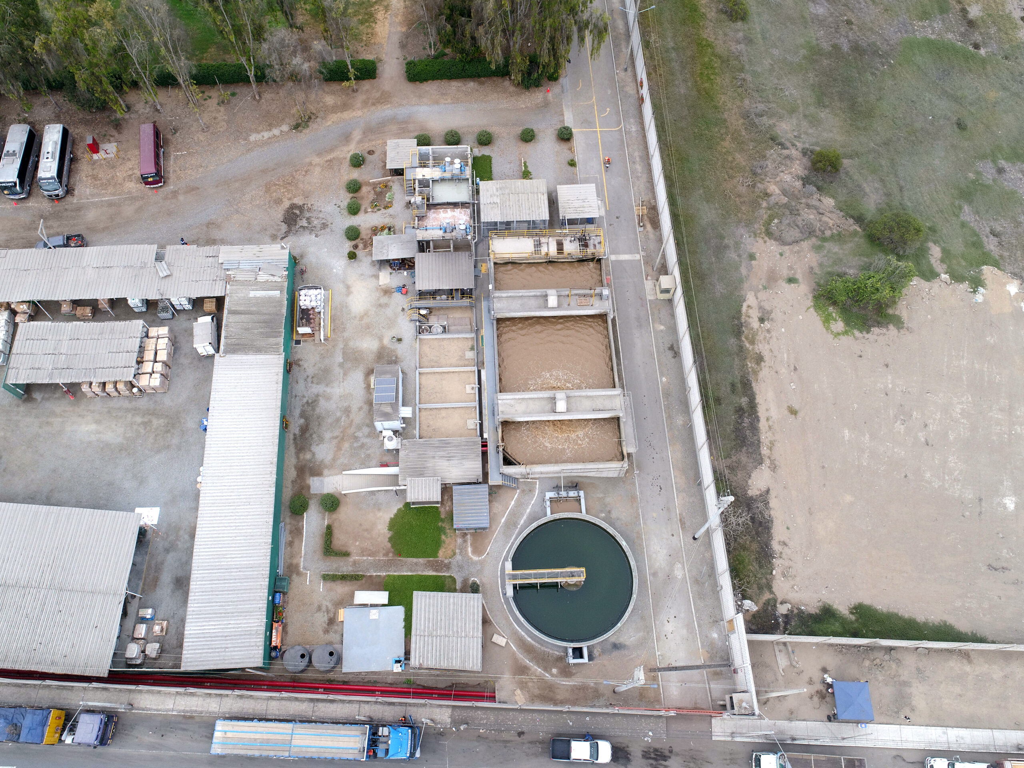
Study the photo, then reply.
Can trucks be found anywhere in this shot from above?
Yes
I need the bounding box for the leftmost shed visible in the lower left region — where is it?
[0,502,157,677]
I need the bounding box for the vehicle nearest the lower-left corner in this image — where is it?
[0,705,129,751]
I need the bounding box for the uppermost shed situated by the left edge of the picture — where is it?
[0,244,227,320]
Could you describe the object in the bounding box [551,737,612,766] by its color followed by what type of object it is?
white truck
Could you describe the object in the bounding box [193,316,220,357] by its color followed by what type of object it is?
white truck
